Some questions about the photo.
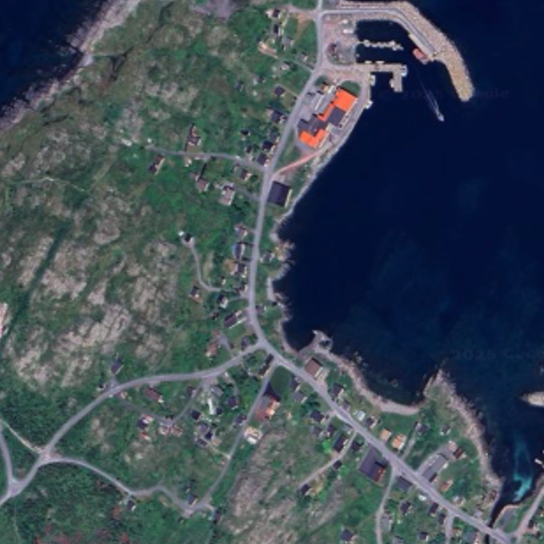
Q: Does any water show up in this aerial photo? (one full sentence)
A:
Yes, there's water in this view.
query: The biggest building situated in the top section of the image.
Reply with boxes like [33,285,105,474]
[297,84,362,147]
